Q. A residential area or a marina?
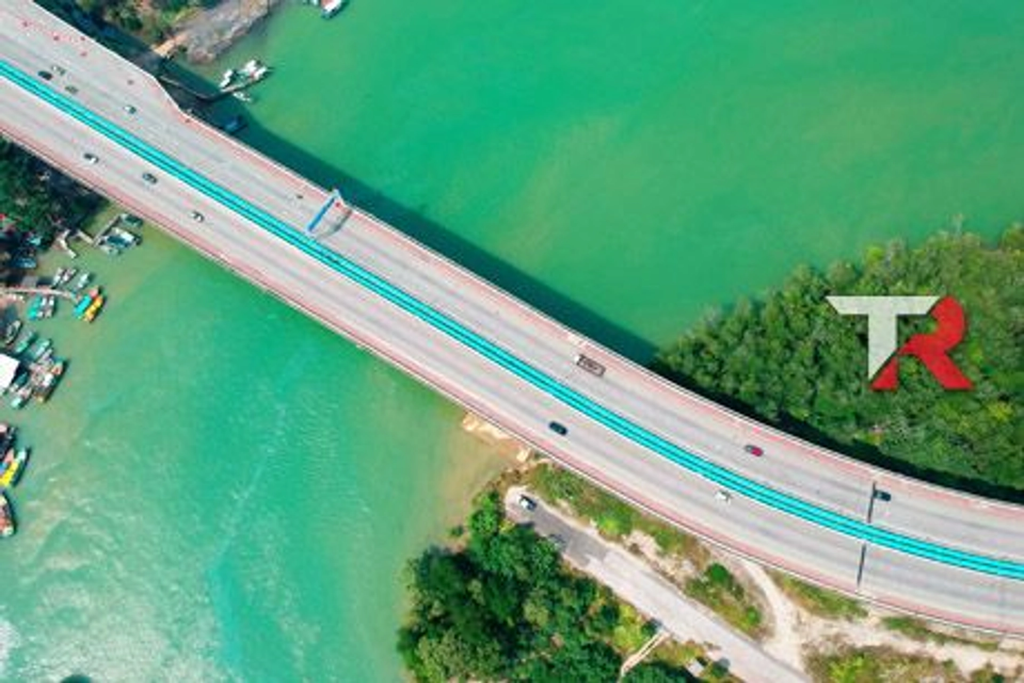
marina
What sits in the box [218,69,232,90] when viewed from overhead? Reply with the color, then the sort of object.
white boat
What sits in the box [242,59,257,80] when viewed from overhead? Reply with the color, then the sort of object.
white boat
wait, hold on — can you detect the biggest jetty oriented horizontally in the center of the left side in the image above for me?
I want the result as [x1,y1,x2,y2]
[11,288,78,304]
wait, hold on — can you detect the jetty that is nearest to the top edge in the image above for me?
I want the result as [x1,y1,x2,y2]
[156,72,253,103]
